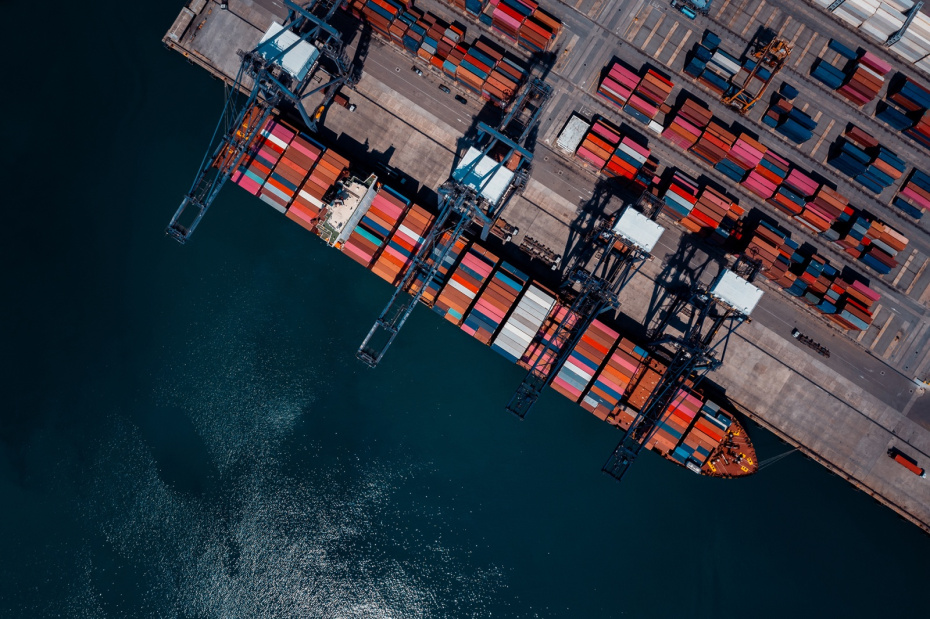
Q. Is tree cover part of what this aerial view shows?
No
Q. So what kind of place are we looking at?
port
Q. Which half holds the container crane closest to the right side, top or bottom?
top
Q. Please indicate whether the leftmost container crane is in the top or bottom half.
top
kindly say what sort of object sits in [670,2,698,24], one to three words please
truck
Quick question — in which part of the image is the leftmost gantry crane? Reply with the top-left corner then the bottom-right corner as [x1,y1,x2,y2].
[163,0,367,249]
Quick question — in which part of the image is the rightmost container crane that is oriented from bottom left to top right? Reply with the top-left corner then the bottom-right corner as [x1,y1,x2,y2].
[723,34,796,113]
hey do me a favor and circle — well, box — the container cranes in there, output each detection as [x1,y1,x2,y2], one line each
[723,34,796,113]
[163,0,367,249]
[354,77,554,369]
[599,250,768,479]
[505,186,669,418]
